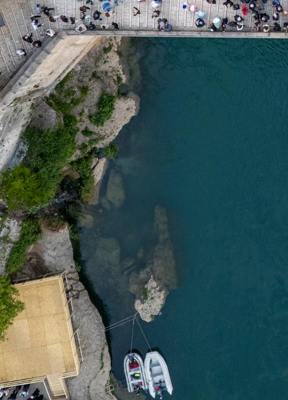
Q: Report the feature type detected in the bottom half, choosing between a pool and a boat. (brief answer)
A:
boat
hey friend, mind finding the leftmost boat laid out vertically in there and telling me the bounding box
[124,351,148,395]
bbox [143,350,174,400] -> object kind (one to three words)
boat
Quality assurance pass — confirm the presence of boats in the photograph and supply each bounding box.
[143,350,174,400]
[124,351,148,395]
